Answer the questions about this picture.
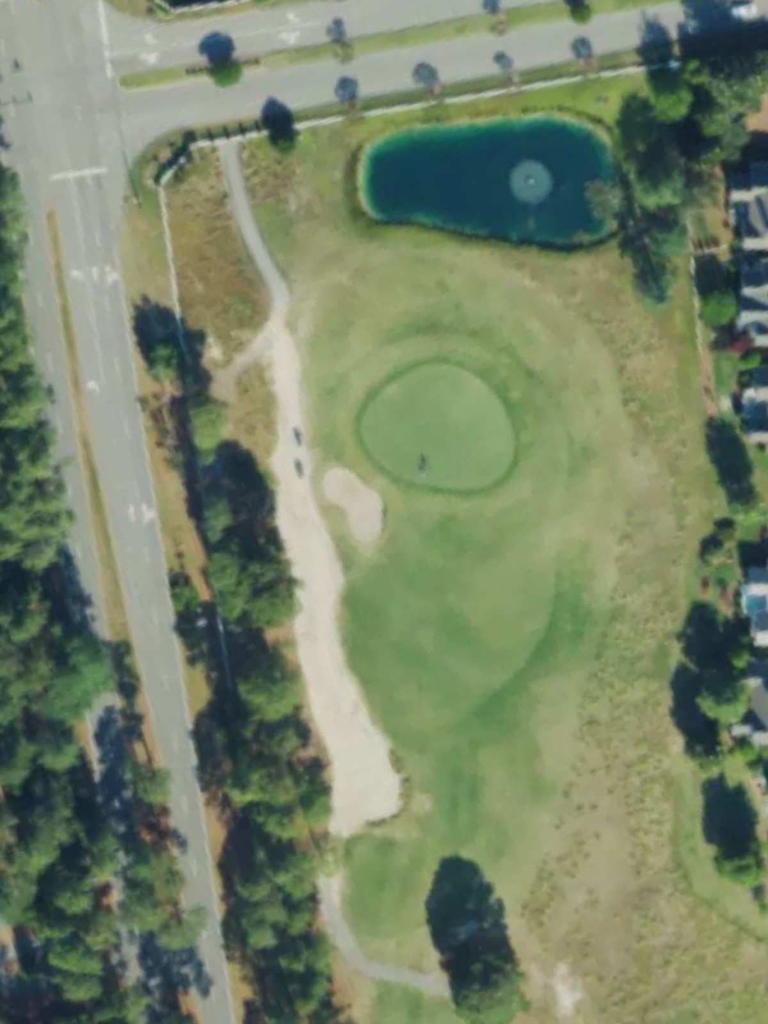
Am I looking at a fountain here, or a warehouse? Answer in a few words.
fountain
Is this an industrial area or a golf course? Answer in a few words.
golf course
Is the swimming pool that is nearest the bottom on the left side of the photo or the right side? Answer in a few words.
right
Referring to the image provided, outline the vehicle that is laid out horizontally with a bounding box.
[732,4,758,17]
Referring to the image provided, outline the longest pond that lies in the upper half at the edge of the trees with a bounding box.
[358,113,620,245]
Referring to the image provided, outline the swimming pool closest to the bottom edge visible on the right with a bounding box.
[740,589,768,626]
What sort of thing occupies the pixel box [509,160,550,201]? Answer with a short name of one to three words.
fountain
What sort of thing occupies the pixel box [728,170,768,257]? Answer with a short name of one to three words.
house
